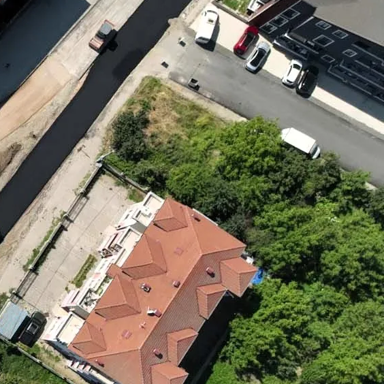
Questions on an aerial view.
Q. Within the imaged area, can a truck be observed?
Yes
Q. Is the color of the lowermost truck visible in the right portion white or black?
white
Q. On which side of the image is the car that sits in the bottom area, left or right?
left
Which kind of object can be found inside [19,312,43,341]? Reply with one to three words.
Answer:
car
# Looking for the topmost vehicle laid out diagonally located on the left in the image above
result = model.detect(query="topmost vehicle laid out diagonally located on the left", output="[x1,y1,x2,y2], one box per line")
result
[88,22,115,52]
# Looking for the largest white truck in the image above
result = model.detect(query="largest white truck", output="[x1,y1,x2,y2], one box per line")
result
[273,127,320,161]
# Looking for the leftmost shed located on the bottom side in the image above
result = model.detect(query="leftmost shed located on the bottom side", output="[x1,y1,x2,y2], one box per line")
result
[0,299,29,343]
